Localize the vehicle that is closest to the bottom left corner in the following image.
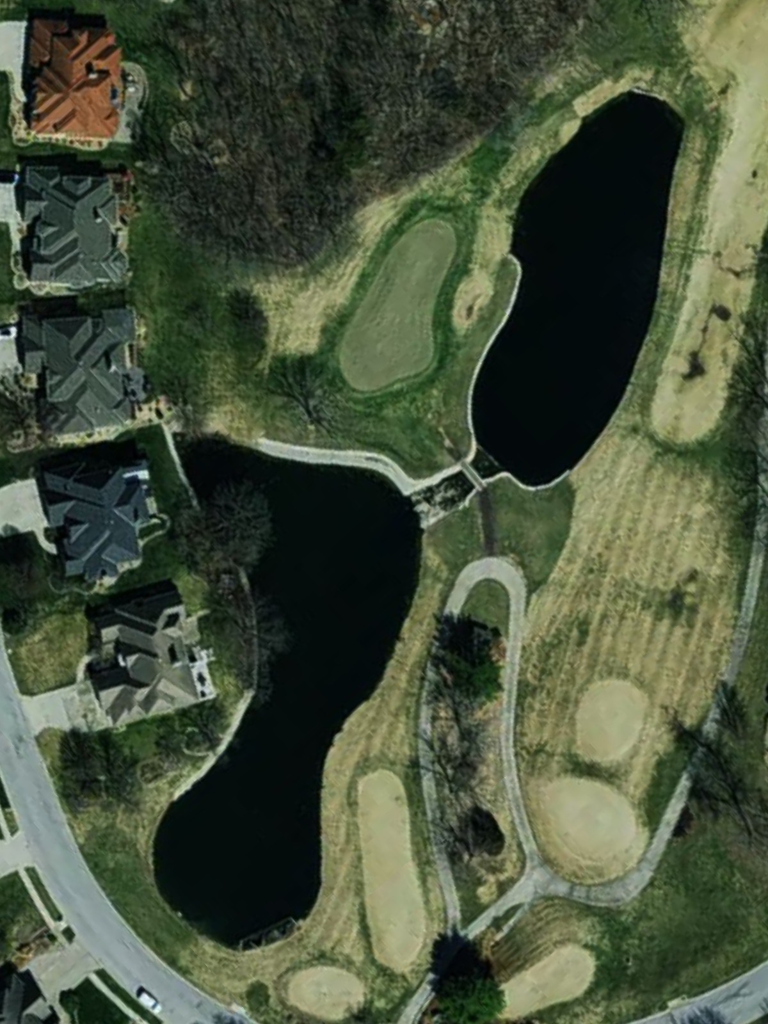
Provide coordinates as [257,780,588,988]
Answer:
[138,990,159,1010]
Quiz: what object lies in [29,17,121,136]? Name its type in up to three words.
house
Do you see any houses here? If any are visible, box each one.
[0,962,59,1024]
[21,308,135,433]
[36,456,152,584]
[88,588,204,724]
[29,17,121,136]
[24,165,127,285]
